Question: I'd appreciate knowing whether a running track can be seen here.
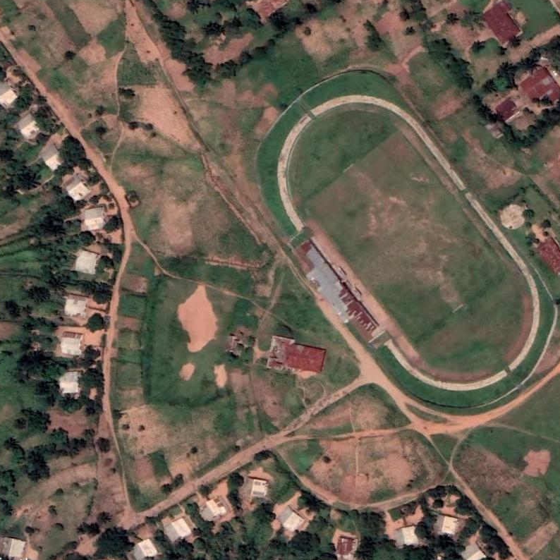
Yes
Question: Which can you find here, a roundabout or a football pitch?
football pitch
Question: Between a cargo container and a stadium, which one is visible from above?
stadium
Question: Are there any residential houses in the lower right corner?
Yes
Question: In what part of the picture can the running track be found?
right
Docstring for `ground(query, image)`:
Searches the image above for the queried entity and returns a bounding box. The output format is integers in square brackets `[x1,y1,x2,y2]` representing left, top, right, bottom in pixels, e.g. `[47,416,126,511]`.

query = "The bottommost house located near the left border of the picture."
[1,539,26,558]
